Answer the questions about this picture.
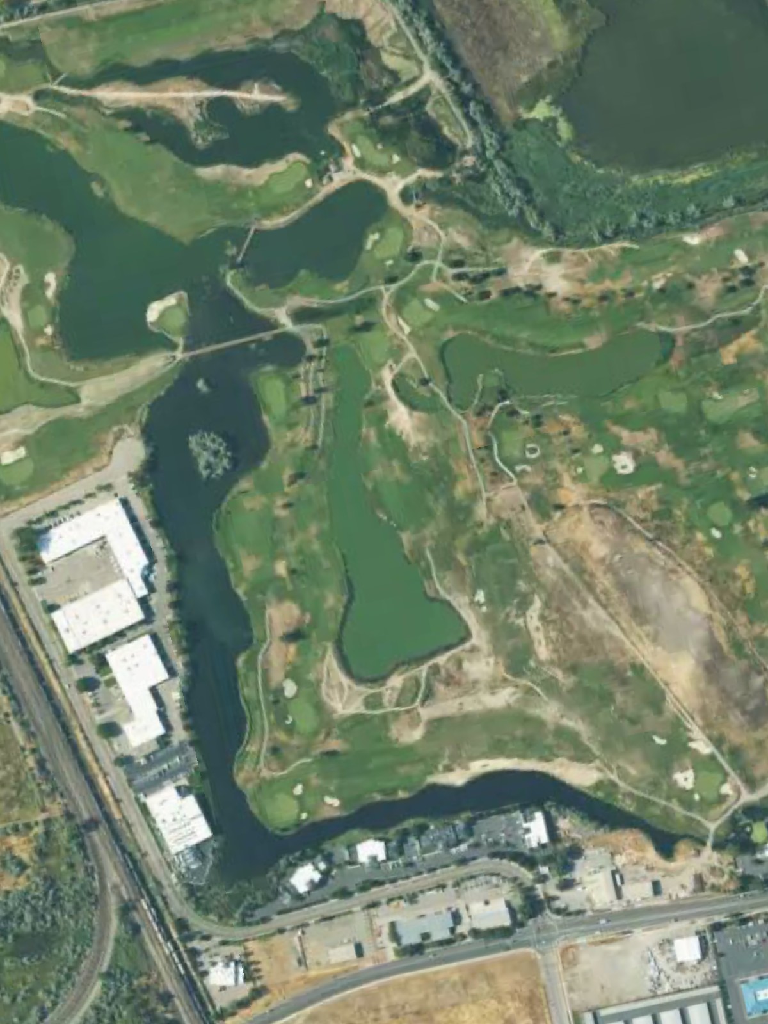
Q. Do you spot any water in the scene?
Yes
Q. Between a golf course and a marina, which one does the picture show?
golf course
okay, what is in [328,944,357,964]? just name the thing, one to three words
shed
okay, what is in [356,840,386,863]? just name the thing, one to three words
building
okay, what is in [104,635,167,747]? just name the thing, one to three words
building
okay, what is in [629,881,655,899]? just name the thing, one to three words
shed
